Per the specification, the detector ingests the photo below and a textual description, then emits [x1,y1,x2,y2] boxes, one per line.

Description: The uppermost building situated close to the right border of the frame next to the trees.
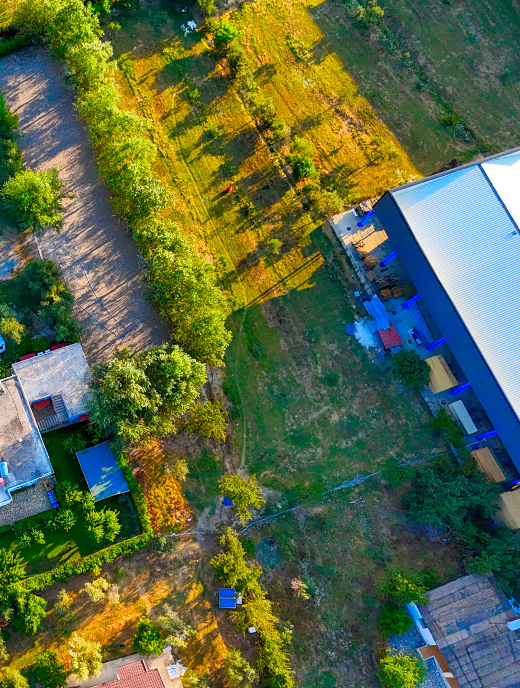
[353,145,520,486]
